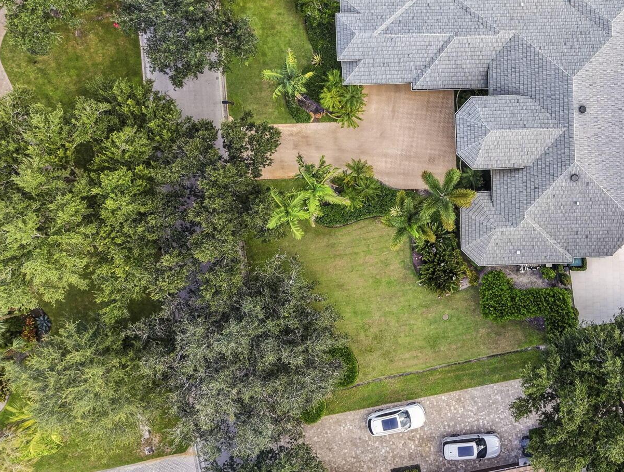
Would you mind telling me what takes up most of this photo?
trees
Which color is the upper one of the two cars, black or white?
white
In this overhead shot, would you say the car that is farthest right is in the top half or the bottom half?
bottom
